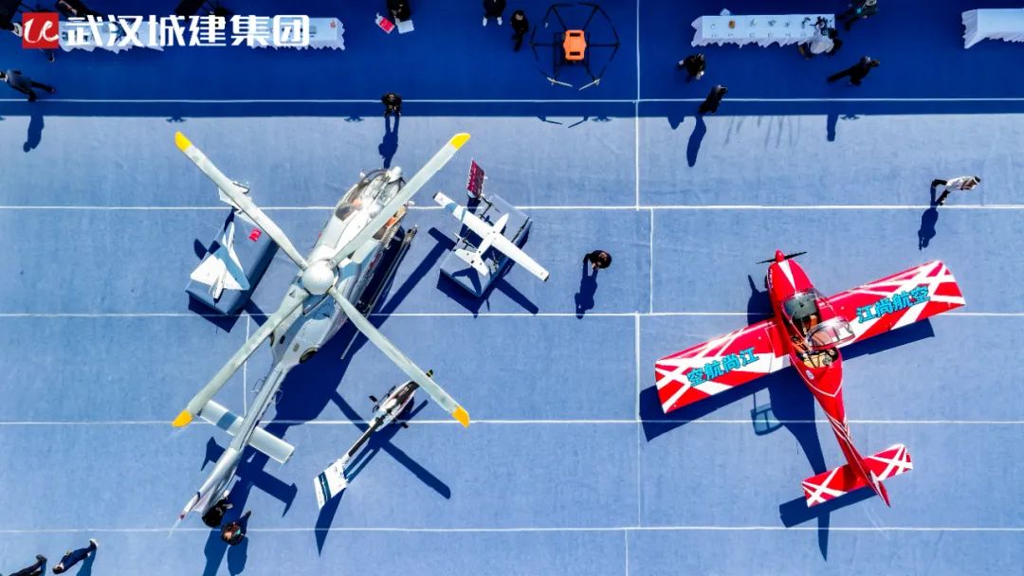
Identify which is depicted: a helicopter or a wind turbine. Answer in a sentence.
Looking from above, you can make out a helicopter.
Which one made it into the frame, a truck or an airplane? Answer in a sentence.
Visible in the photo is an airplane.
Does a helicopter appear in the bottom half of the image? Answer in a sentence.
Yes, there is a helicopter in the bottom half of the image.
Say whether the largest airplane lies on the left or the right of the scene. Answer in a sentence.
The largest airplane sits on the right side.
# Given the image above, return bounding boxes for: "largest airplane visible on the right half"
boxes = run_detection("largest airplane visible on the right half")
[656,250,965,508]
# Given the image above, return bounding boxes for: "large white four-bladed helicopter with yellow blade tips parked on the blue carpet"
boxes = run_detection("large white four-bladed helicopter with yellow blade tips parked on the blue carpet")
[173,134,469,528]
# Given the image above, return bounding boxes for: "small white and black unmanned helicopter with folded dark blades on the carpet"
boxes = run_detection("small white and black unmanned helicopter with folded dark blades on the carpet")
[335,368,433,464]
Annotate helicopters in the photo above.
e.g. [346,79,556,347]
[173,134,469,528]
[335,368,433,464]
